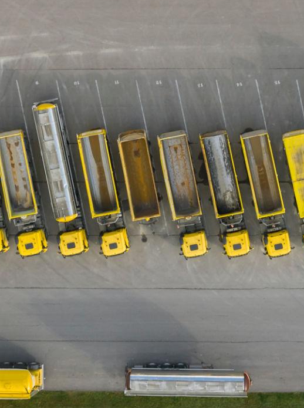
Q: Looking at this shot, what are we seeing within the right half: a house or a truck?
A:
truck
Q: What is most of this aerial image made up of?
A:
paved ground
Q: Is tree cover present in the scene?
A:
No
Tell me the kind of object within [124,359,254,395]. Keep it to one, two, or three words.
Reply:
trailer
